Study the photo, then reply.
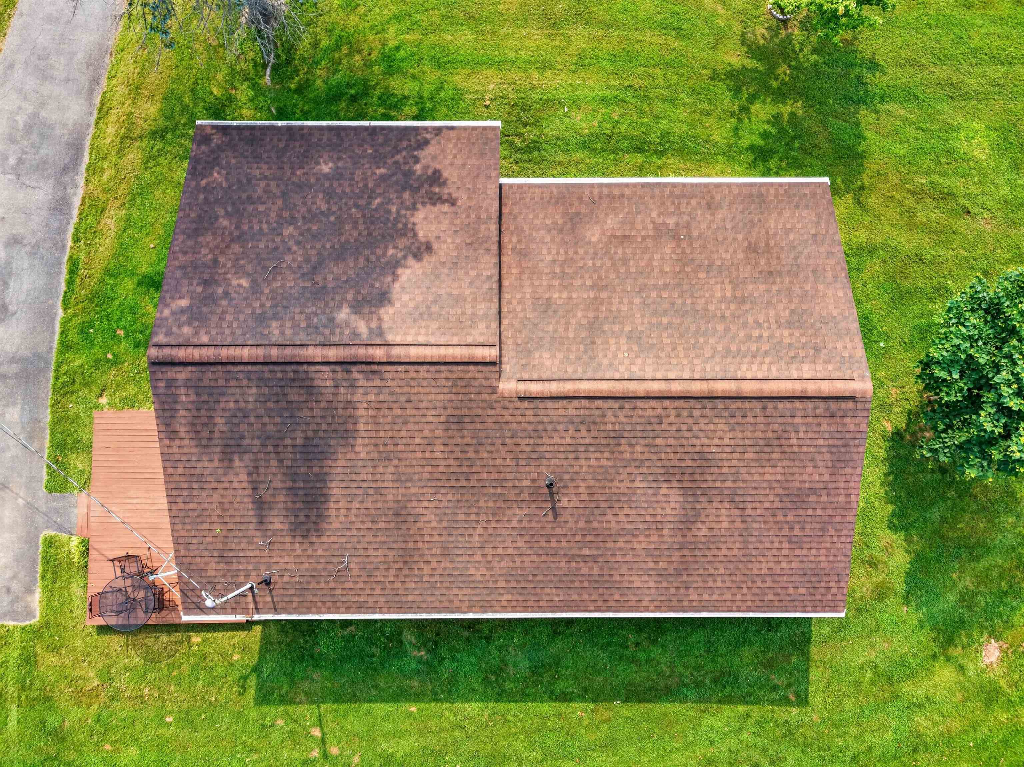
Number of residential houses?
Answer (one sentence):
The count comes to 1 residential house.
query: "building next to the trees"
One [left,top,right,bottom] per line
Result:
[145,120,874,619]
